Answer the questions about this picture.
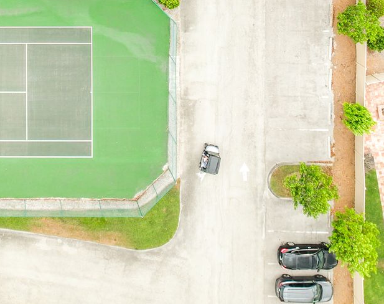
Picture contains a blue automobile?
No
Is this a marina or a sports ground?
sports ground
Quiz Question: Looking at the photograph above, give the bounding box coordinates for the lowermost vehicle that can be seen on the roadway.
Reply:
[277,272,334,304]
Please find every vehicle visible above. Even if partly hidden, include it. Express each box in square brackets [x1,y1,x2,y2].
[201,147,224,182]
[278,242,338,272]
[277,272,334,304]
